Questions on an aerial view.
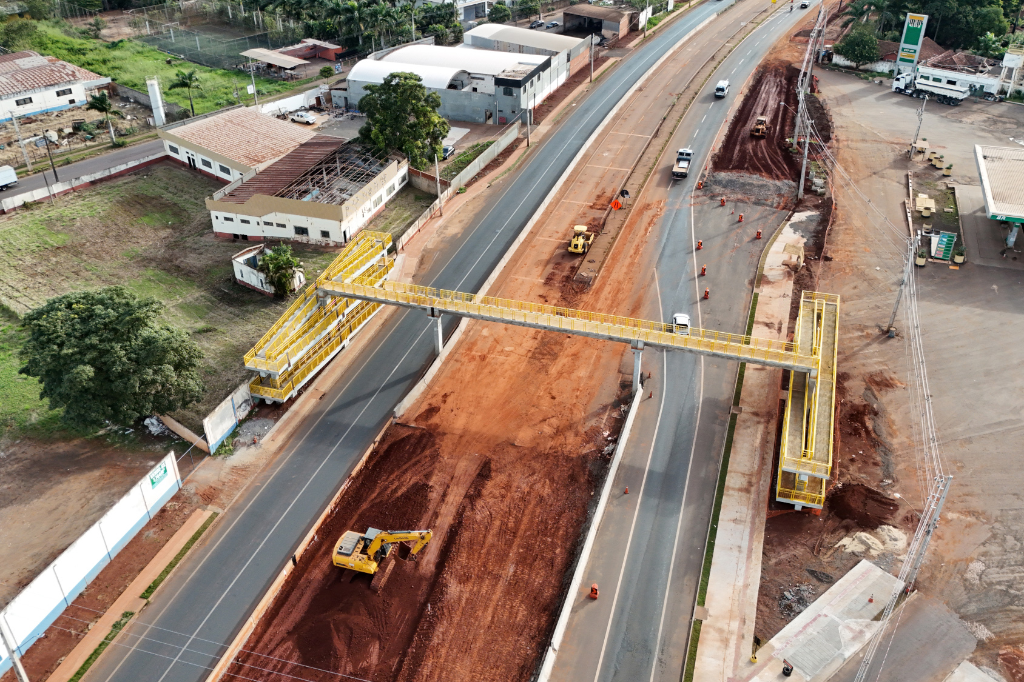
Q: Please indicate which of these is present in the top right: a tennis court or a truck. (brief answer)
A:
truck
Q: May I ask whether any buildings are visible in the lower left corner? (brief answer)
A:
No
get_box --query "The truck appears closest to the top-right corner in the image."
[895,70,976,105]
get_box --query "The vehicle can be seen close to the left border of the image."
[0,161,21,185]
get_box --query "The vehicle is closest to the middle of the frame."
[567,224,596,255]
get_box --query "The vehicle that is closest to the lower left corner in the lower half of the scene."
[329,529,437,596]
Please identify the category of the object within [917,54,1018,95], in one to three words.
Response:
building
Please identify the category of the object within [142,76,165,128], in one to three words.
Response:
silo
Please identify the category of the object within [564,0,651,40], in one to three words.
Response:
shed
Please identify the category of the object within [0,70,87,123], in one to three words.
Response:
building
